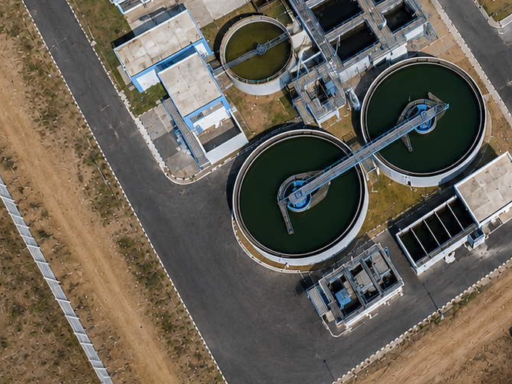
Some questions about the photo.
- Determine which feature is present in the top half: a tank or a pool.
tank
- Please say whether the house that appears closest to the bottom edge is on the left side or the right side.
right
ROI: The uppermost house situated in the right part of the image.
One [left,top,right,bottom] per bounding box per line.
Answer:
[285,57,352,128]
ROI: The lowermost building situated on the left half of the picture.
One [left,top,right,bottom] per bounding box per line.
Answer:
[158,50,233,129]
